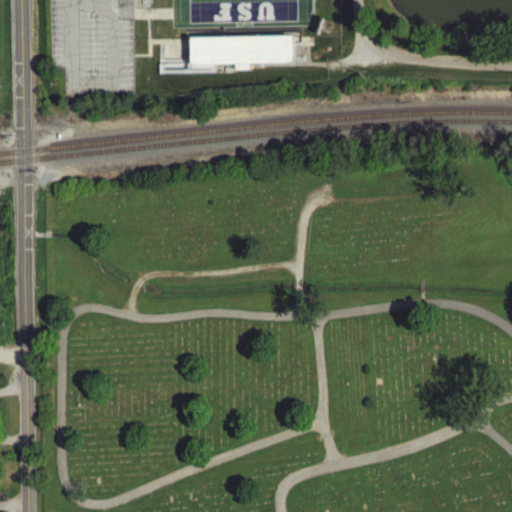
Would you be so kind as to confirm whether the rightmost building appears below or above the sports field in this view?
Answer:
below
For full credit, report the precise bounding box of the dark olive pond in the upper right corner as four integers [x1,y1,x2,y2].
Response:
[391,0,512,47]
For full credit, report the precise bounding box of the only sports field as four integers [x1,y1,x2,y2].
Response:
[174,0,314,28]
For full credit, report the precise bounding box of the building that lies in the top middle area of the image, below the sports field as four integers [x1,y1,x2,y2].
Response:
[188,34,294,71]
